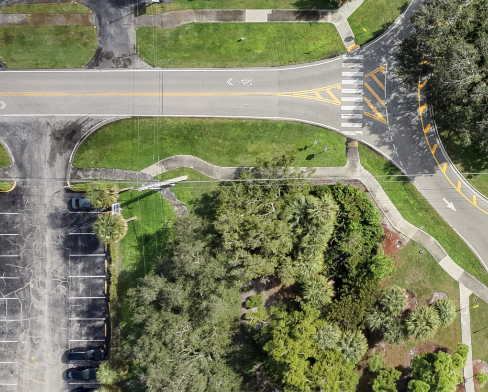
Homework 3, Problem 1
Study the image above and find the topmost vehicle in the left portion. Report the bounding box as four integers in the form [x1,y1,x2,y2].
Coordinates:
[66,196,96,213]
